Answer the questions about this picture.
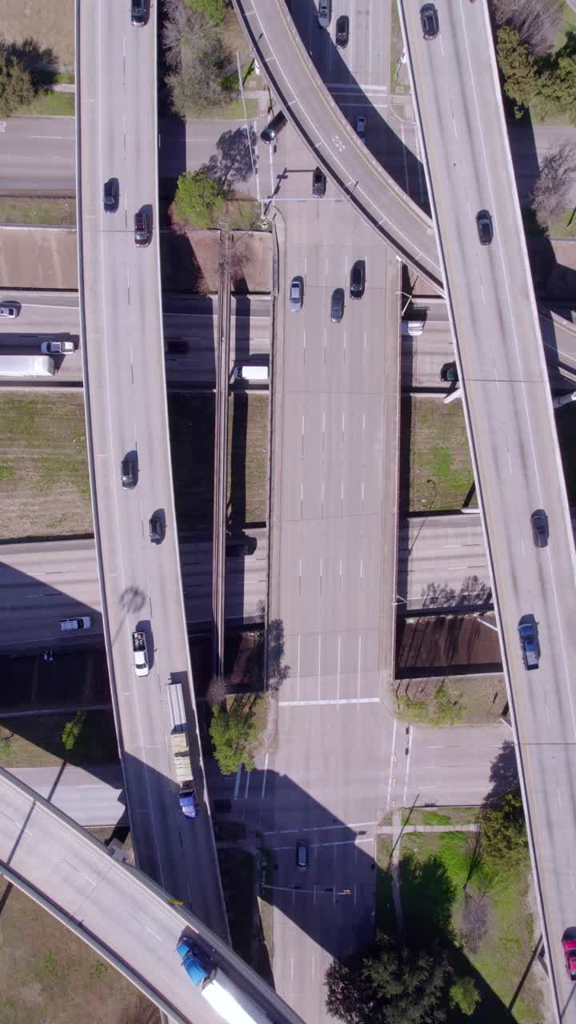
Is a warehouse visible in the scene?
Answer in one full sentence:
No, I can see no warehouse in this picture.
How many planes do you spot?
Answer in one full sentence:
The photo contains no planes.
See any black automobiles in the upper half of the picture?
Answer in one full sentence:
Yes, a black automobile shows up in the upper half of the picture.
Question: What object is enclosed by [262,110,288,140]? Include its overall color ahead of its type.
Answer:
black car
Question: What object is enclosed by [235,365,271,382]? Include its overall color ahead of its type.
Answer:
white vehicle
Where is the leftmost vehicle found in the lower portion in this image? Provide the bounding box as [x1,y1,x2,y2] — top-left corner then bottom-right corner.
[58,616,94,630]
